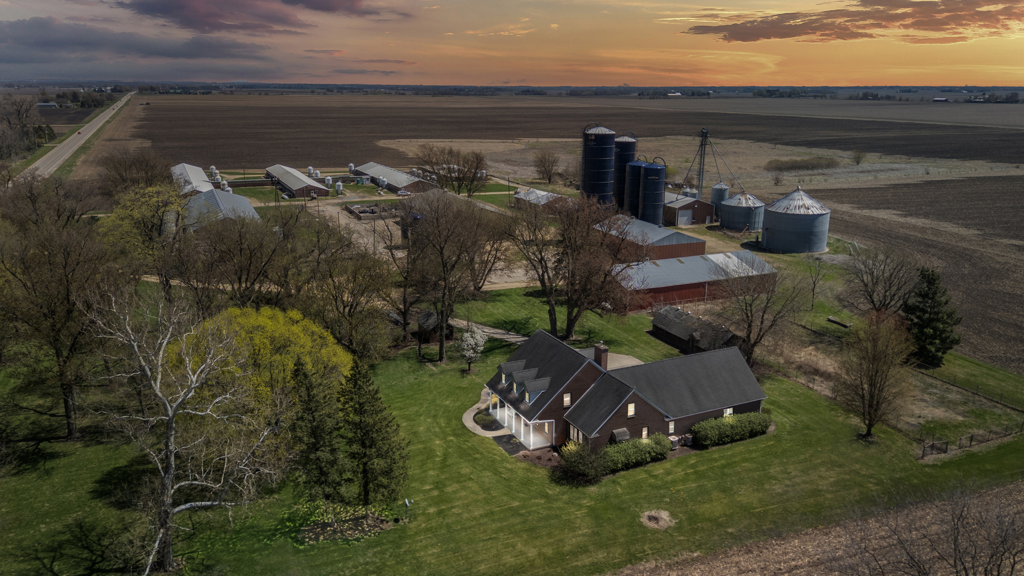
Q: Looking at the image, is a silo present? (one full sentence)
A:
Yes, there's a silo here.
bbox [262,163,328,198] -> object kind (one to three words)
barn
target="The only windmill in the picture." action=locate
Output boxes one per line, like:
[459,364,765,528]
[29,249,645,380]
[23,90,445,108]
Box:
[268,173,285,215]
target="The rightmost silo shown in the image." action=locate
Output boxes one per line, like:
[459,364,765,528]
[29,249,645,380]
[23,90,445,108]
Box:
[758,187,834,253]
